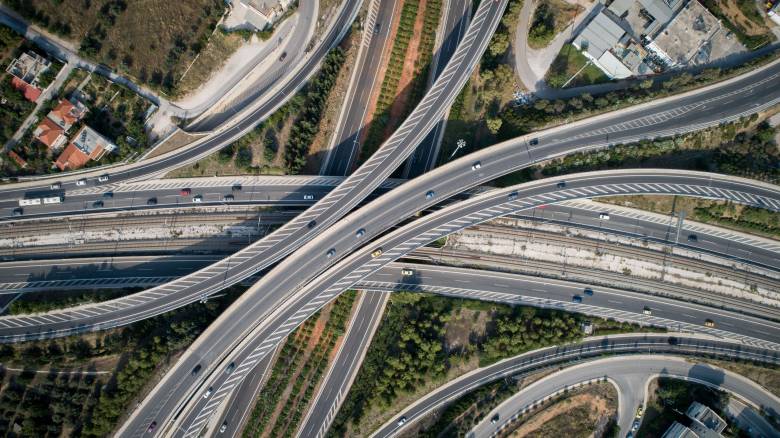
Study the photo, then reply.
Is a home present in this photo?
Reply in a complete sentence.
Yes, you can see a home in this photo.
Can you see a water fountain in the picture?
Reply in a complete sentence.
No, there's no water fountain here.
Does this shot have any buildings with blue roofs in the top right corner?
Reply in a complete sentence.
No, no building with a blue roof appears in the top right corner.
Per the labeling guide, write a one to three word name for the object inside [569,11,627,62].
building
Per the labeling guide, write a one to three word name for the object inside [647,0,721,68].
building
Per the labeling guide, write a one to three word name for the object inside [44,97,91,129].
house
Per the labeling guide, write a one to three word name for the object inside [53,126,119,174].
house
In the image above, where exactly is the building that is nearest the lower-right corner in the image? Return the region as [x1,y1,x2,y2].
[639,396,728,438]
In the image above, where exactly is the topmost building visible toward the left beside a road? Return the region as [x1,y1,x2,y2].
[243,0,289,36]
